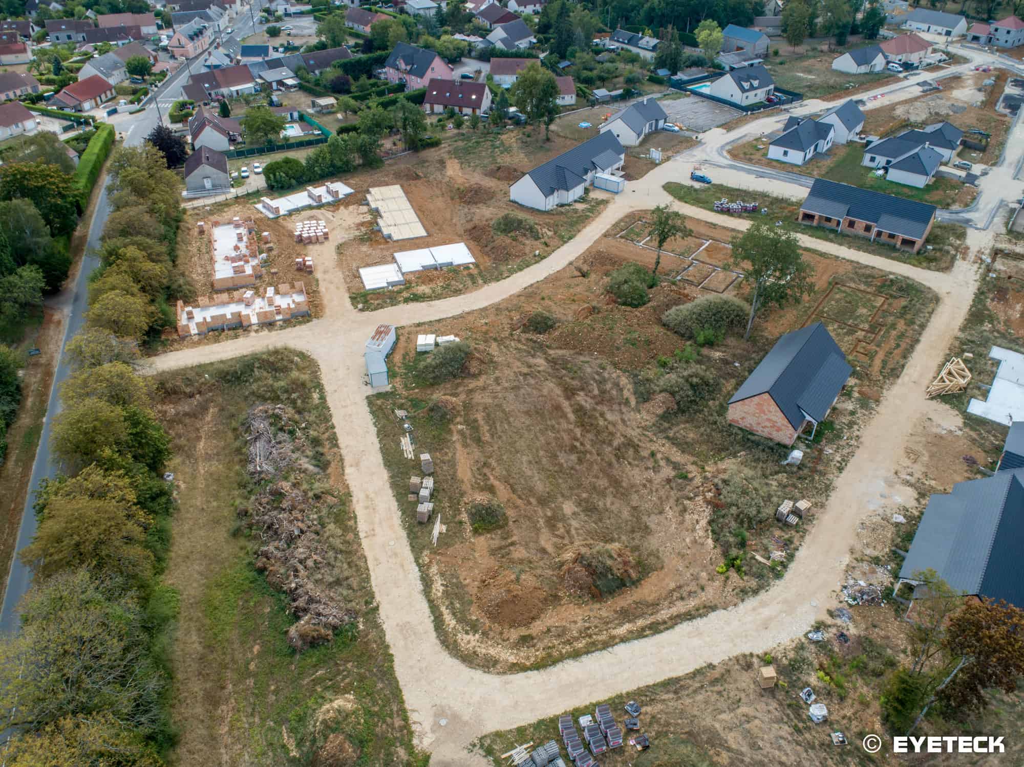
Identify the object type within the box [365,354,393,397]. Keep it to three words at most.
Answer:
building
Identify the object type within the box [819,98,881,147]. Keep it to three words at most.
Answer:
house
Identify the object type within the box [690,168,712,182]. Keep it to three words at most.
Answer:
vehicle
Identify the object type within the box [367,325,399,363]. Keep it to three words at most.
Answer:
building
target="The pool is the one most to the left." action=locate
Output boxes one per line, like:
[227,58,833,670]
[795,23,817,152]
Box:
[281,123,304,137]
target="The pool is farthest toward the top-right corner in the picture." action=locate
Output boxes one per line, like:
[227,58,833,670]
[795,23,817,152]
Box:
[685,81,712,93]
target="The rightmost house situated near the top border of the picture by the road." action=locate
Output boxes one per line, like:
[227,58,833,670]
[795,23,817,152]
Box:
[978,15,1024,46]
